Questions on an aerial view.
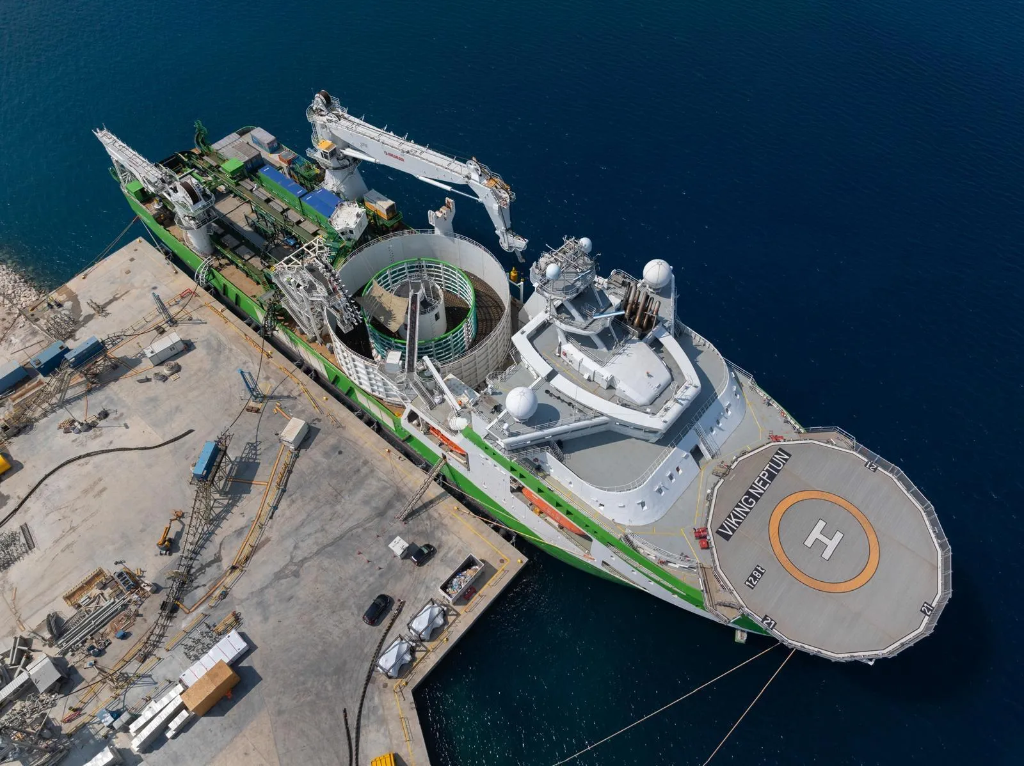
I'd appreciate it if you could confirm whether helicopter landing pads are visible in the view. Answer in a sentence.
Yes, the image includes a helicopter landing pad.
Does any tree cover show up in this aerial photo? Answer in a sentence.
No, there's no tree cover in this view.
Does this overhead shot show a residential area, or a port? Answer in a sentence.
The area seen from above is a port.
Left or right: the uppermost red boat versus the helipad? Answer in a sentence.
You can see the uppermost red boat positioned to the left of the helipad.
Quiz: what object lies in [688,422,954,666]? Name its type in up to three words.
helipad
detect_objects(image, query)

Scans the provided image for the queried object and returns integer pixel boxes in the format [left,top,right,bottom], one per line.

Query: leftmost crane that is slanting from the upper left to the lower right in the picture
[89,126,216,256]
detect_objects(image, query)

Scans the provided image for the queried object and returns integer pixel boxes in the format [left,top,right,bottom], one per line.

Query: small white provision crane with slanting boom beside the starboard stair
[425,357,467,433]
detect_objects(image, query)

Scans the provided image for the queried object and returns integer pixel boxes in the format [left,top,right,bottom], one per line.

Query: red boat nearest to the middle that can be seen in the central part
[431,427,467,459]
